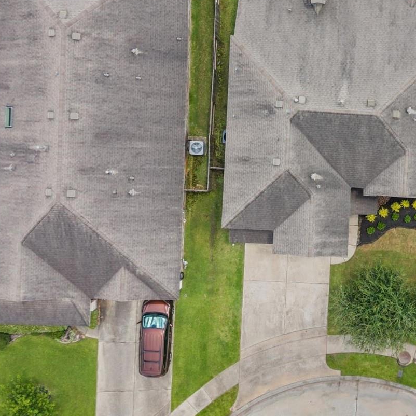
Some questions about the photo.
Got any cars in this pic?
Yes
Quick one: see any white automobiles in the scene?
No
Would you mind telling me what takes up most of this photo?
buildings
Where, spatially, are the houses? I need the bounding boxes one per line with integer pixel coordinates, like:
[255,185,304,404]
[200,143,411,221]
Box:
[0,0,190,327]
[222,0,416,259]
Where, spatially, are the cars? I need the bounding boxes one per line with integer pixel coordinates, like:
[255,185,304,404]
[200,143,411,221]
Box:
[134,300,173,377]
